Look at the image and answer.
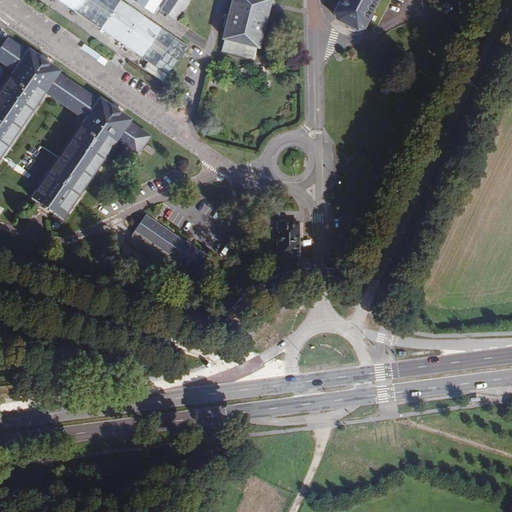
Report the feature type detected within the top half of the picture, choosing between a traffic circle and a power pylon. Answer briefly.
traffic circle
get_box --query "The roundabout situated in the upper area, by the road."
[259,126,325,214]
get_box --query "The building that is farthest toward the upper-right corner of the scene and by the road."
[335,0,382,30]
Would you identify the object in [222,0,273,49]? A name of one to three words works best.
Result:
house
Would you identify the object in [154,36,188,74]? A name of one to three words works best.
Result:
greenhouse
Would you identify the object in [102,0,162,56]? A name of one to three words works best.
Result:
building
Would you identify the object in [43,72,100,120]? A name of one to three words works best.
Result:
building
